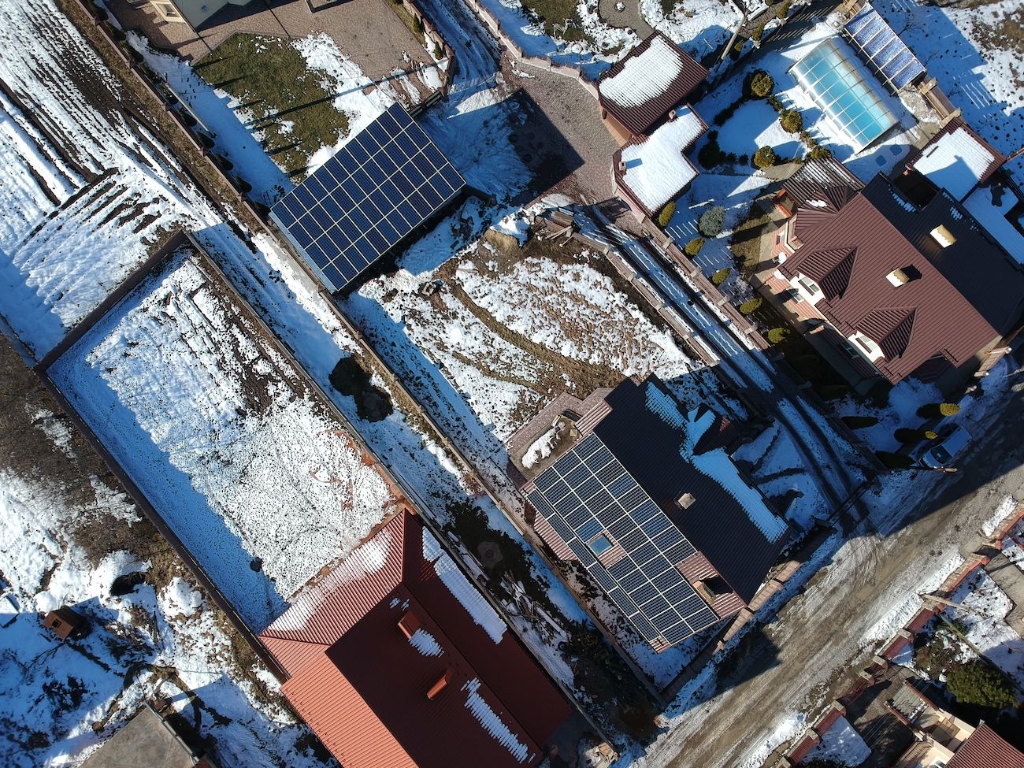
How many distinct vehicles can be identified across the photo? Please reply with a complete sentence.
Altogether the scene contains 1 vehicle.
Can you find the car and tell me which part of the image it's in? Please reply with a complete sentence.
The car sits in the right section of the image.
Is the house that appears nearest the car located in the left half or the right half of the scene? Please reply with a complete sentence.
It is on the right.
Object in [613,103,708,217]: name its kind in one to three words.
shed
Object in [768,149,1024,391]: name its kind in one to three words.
house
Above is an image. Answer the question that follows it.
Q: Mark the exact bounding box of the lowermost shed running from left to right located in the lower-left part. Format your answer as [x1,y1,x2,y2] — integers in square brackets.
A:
[76,696,227,768]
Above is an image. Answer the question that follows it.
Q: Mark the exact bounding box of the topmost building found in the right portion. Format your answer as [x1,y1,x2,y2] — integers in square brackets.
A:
[598,30,709,139]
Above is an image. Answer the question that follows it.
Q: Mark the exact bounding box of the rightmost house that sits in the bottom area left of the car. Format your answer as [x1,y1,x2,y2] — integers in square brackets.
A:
[510,374,789,654]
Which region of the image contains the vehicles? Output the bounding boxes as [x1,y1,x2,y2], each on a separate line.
[915,420,983,475]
